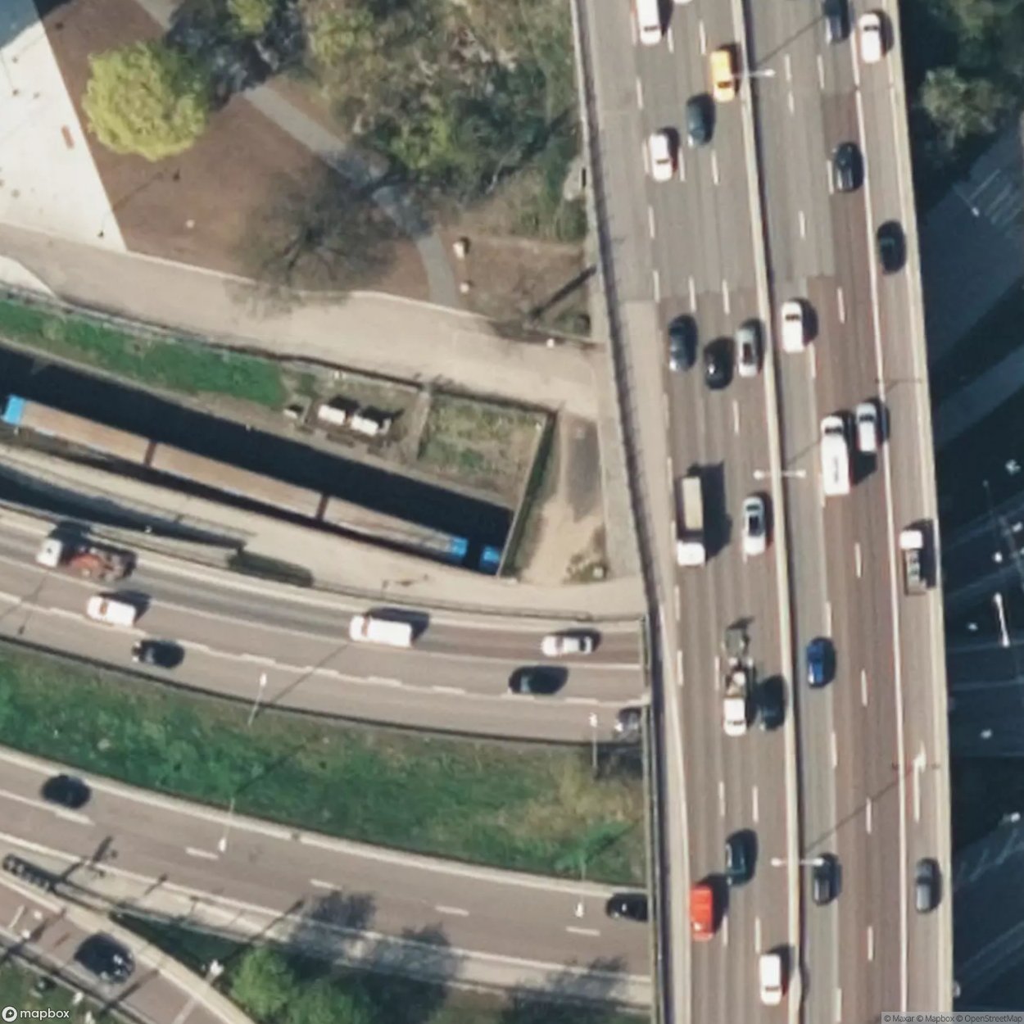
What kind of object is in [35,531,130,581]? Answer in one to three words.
truck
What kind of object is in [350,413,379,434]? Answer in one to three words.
shed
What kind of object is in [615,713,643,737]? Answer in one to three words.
car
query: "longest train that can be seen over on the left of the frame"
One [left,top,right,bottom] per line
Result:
[1,398,470,563]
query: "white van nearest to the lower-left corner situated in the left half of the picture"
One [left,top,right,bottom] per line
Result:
[86,595,139,626]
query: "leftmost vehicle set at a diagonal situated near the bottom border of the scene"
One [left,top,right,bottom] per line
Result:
[77,938,130,980]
